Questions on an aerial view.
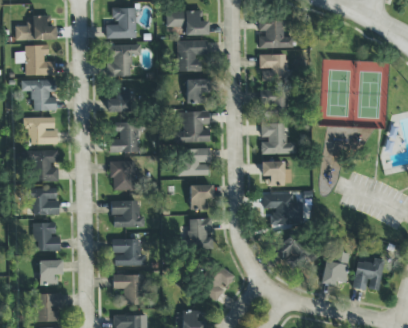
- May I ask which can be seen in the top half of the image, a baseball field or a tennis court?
tennis court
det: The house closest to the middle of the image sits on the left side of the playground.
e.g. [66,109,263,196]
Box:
[180,147,212,176]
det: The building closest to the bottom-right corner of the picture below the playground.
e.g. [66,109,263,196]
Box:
[354,259,386,292]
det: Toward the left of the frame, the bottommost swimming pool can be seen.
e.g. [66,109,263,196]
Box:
[140,46,154,70]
